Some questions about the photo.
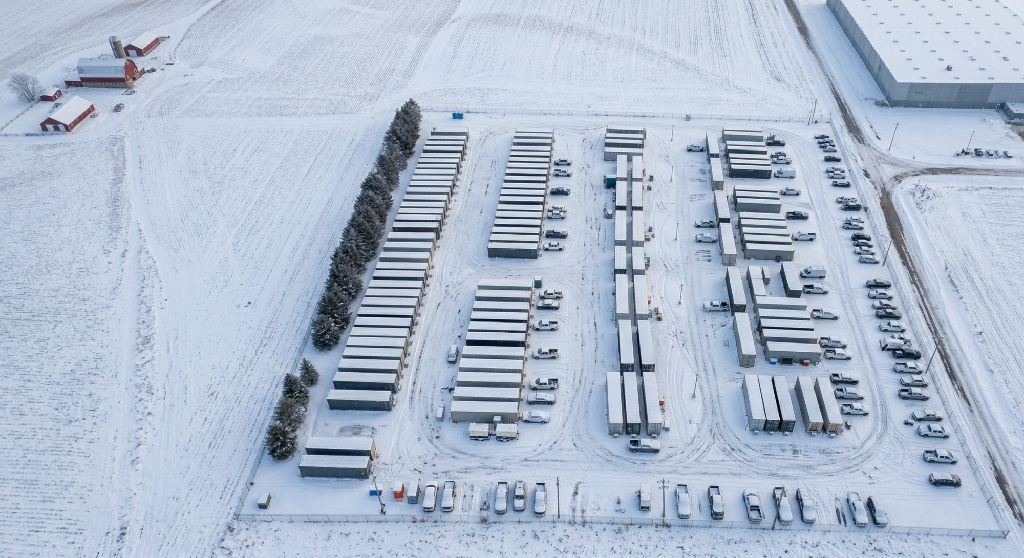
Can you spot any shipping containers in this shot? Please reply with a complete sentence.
Yes, looking at the shot, I can spot a shipping container.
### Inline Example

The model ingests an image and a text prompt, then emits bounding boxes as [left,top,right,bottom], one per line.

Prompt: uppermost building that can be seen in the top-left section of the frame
[125,28,161,56]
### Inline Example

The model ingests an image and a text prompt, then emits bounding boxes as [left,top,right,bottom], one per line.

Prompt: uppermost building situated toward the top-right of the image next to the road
[825,0,1024,109]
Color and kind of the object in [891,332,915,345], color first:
white vehicle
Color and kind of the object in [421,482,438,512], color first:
white car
